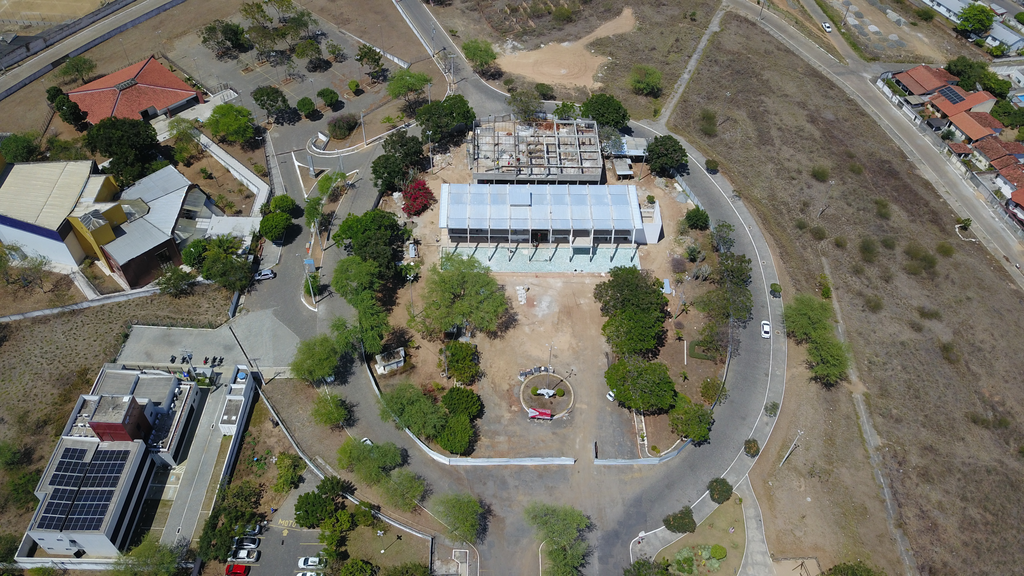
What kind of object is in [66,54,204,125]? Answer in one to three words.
building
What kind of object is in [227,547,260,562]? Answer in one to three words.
car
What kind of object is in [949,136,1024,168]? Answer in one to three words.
house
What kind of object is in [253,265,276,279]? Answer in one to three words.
car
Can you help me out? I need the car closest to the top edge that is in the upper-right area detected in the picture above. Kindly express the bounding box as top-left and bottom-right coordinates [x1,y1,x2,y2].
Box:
[821,19,834,31]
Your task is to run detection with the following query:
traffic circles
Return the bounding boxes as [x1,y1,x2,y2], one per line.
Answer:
[521,373,574,419]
